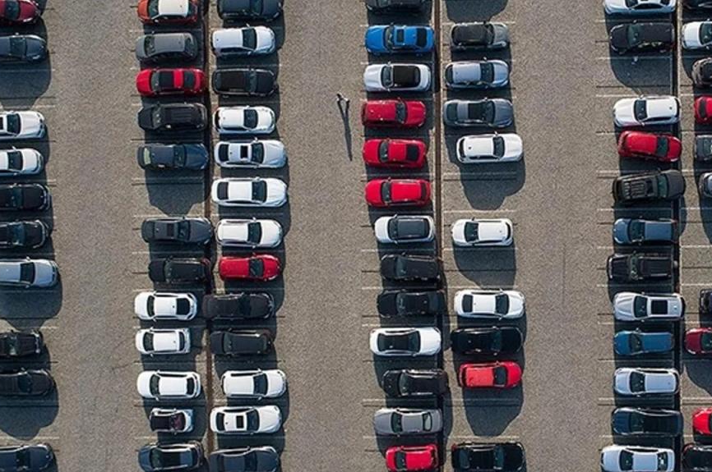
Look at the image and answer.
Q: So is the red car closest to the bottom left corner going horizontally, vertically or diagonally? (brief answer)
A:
horizontally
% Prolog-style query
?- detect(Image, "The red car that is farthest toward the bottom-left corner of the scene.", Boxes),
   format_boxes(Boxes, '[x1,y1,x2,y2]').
[221,251,282,283]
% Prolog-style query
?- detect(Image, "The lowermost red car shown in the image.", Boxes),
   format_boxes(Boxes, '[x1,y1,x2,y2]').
[386,443,438,472]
